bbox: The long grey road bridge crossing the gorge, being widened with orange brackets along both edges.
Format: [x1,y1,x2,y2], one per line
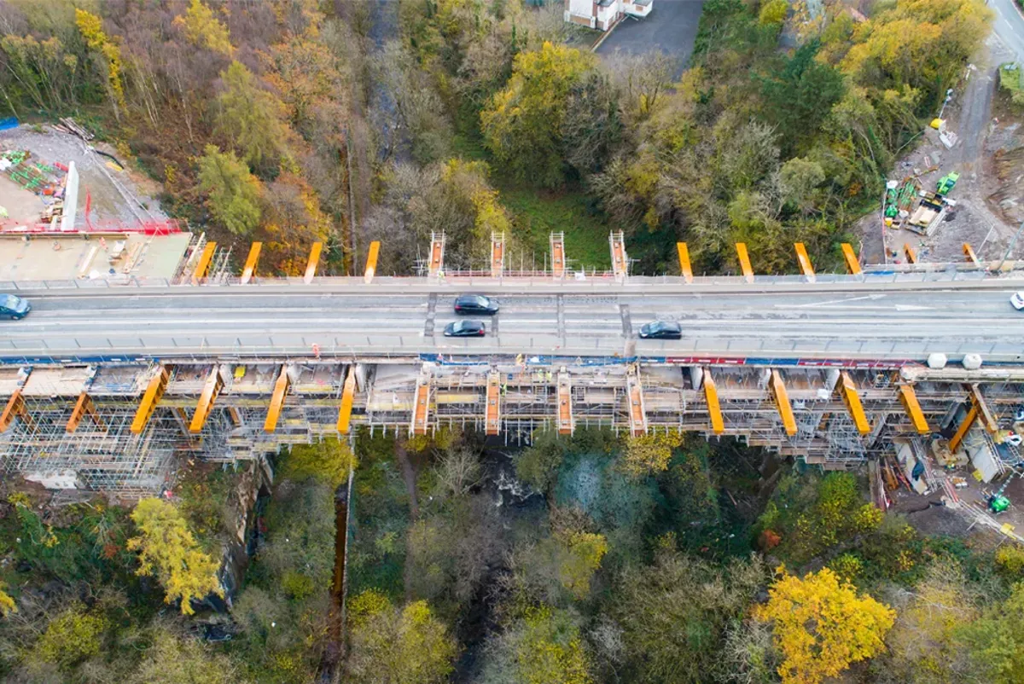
[0,282,1024,453]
